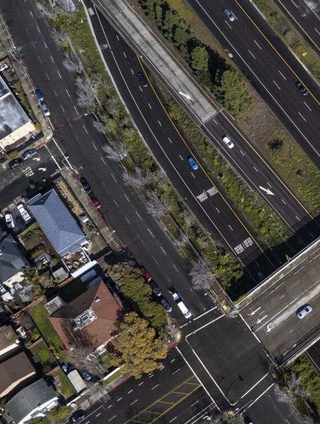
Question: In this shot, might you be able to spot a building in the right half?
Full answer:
No, there is no building in the right half.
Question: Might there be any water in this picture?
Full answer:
No, water can't be seen anywhere here.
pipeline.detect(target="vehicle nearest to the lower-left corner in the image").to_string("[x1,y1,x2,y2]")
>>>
[68,409,87,424]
